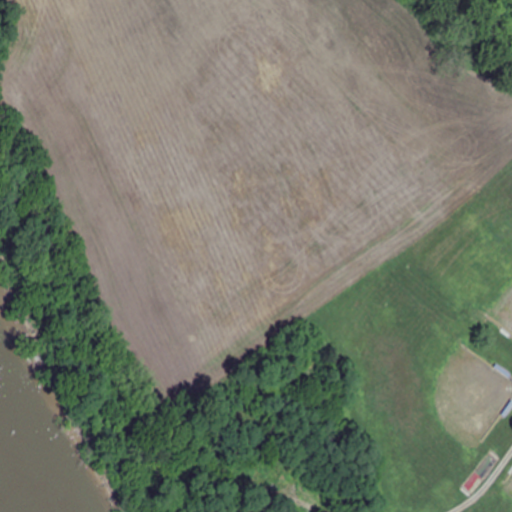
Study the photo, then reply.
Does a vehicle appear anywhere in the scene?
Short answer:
No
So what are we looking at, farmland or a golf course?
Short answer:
farmland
